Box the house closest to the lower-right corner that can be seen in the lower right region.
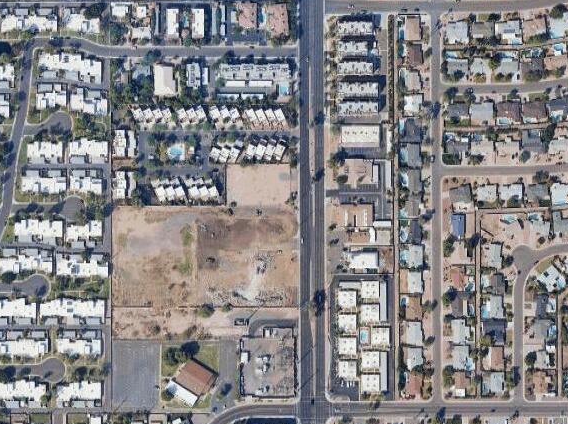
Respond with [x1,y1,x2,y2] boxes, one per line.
[534,372,552,395]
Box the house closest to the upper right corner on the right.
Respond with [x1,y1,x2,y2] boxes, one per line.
[549,13,568,37]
